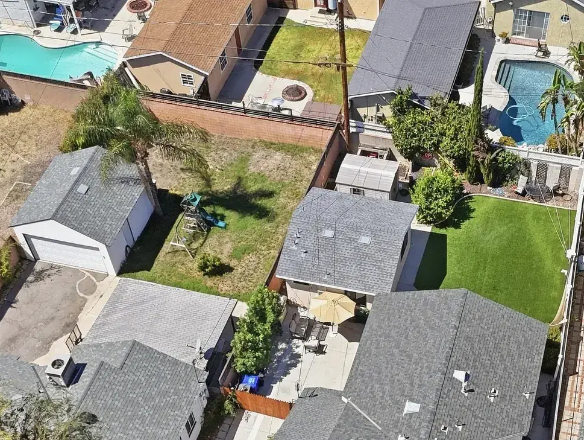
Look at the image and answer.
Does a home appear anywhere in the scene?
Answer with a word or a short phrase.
Yes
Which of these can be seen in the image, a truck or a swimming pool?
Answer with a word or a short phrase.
swimming pool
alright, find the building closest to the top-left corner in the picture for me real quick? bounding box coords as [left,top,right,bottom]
[4,0,81,34]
